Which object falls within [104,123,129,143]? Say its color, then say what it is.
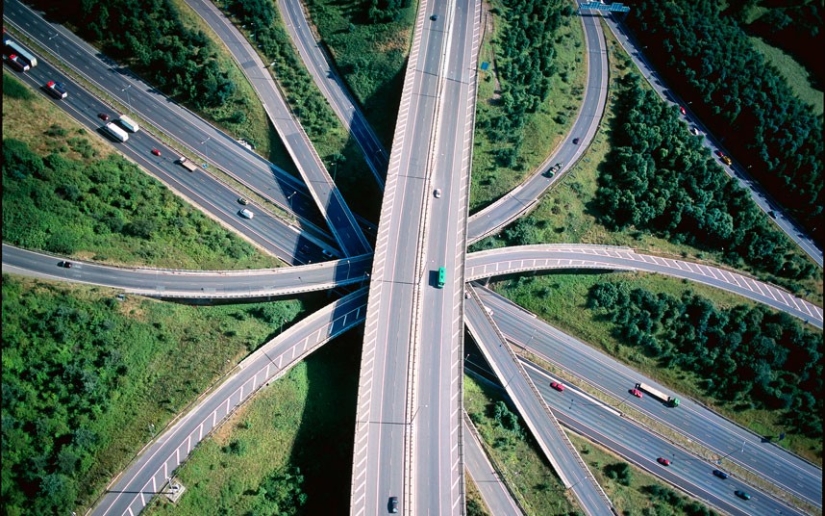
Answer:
white vehicle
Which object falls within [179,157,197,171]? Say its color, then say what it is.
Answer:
white vehicle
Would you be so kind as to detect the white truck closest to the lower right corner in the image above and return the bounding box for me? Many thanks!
[638,383,678,409]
